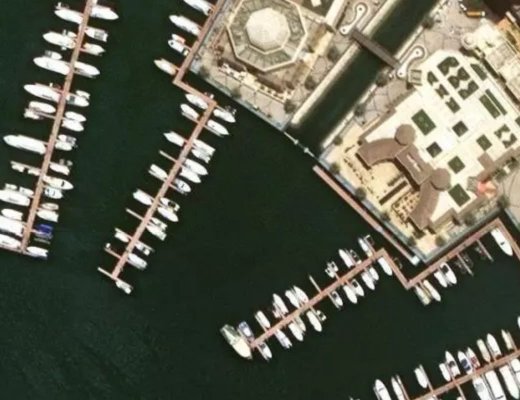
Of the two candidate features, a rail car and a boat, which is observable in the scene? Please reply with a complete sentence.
The image shows a boat.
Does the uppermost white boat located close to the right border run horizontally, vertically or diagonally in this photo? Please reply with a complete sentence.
The uppermost white boat located close to the right border runs diagonally in the image.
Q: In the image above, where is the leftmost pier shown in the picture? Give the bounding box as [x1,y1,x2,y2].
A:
[10,0,111,259]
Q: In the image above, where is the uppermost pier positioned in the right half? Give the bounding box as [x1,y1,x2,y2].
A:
[313,166,420,262]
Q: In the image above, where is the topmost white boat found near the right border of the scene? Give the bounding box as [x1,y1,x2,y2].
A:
[492,228,513,257]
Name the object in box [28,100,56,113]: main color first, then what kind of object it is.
white boat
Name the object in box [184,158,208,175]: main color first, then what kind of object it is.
white boat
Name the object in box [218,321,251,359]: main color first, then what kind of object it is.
white ship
